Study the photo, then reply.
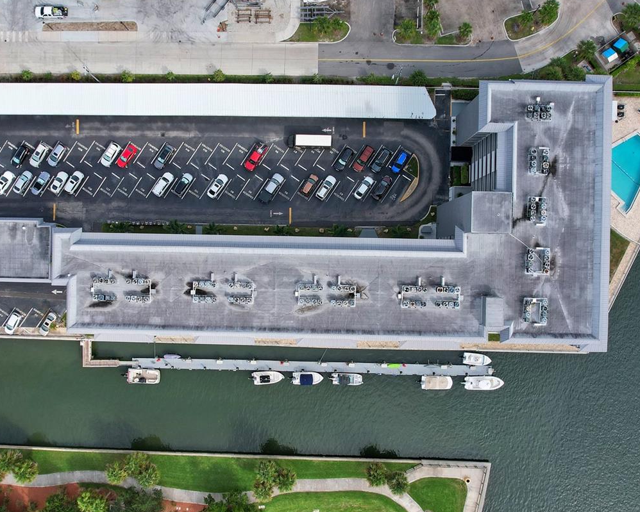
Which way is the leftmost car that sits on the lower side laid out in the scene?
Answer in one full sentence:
The leftmost car that sits on the lower side is oriented diagonally.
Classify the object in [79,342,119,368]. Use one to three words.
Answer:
pier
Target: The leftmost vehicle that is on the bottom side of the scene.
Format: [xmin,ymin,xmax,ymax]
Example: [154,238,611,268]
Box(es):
[1,310,24,337]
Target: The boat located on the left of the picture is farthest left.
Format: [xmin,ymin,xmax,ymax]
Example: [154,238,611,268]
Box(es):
[123,370,160,384]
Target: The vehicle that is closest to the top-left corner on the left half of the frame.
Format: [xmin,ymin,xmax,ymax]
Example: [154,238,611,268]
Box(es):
[33,4,68,19]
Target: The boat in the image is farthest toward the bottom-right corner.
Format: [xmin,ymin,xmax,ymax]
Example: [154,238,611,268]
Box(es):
[462,377,504,391]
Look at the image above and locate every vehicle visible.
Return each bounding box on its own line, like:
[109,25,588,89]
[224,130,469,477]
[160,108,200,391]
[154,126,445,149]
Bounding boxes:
[299,173,318,197]
[207,173,227,199]
[29,140,51,167]
[33,4,68,19]
[244,139,269,171]
[153,142,174,169]
[354,174,375,201]
[371,144,394,173]
[46,140,68,167]
[150,170,174,199]
[47,170,68,196]
[391,147,412,174]
[1,310,24,337]
[283,133,332,149]
[171,171,193,198]
[353,143,376,171]
[258,172,283,204]
[9,140,32,167]
[373,175,393,201]
[11,169,33,195]
[315,174,337,201]
[37,311,58,337]
[0,169,15,196]
[30,170,51,196]
[61,169,84,196]
[117,142,137,168]
[334,144,354,171]
[100,140,122,168]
